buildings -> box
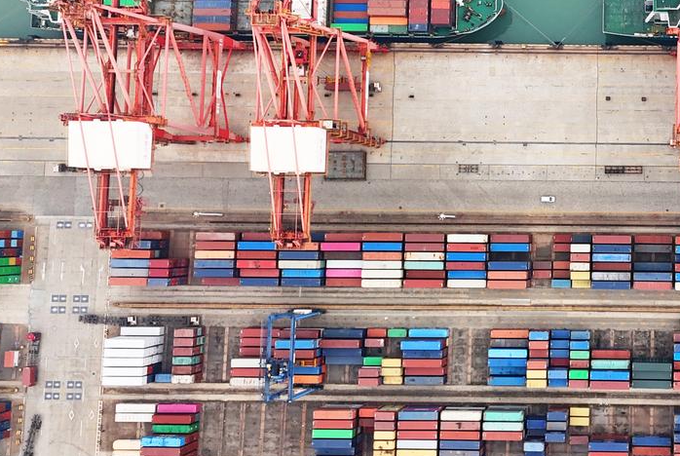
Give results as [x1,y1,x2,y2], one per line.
[2,350,22,369]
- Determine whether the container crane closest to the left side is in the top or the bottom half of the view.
top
